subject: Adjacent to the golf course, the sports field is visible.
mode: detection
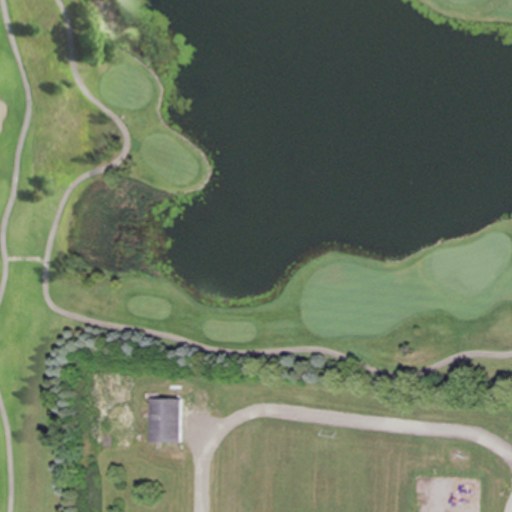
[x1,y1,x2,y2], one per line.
[190,418,510,512]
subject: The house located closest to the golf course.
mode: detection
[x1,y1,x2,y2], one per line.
[148,398,184,444]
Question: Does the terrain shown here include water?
Yes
